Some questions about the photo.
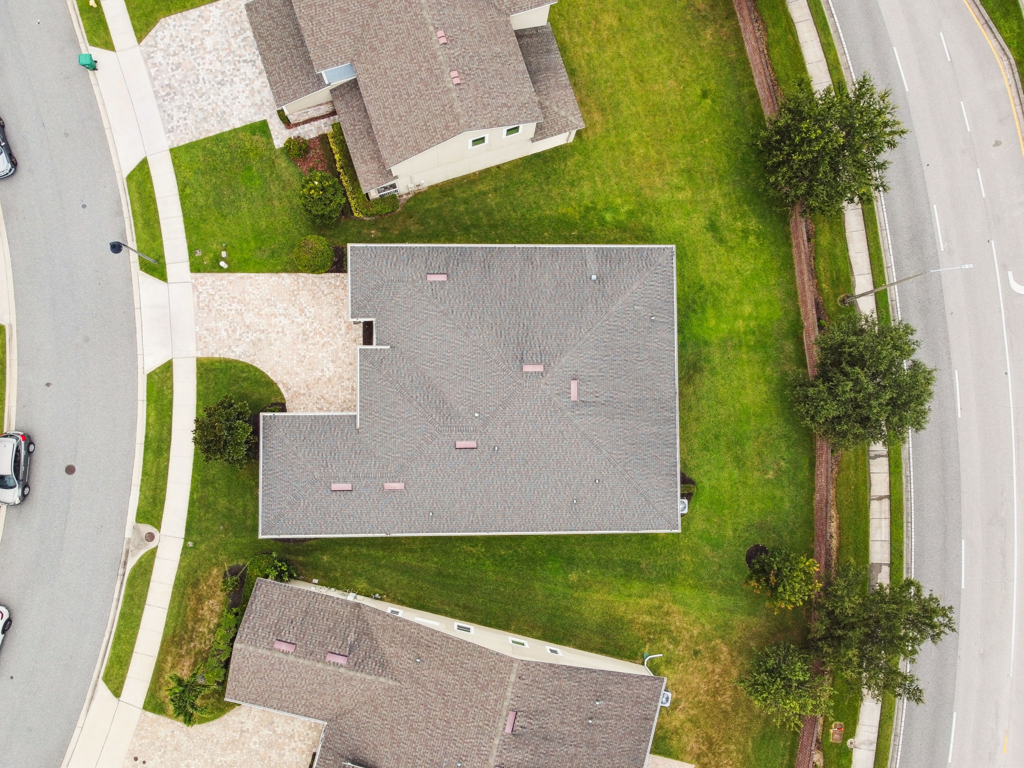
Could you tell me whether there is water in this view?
No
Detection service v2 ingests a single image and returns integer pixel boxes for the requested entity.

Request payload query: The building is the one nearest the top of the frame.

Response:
[244,0,585,196]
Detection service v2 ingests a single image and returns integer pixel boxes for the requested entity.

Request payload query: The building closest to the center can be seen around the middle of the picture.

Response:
[256,242,684,540]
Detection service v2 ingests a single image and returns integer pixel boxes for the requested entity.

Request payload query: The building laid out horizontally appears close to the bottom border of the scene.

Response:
[225,578,670,768]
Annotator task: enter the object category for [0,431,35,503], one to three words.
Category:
car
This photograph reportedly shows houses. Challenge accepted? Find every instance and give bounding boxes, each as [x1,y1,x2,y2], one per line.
[225,578,670,768]
[244,0,585,196]
[256,242,684,540]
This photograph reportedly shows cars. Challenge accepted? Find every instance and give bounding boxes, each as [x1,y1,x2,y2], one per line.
[0,431,35,503]
[0,609,12,651]
[0,118,18,177]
